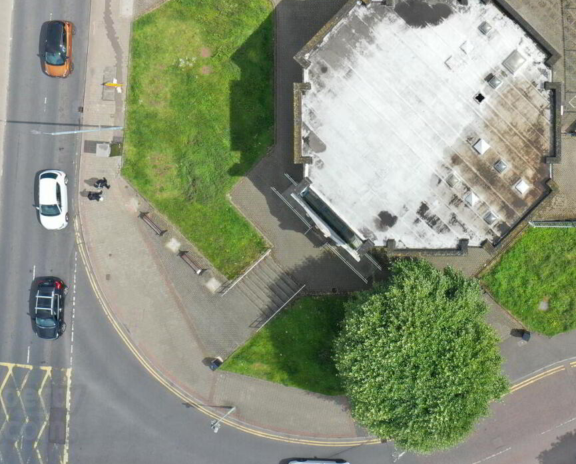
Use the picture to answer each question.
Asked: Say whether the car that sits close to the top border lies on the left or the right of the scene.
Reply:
left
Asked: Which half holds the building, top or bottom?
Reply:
top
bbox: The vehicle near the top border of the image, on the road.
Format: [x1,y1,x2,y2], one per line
[40,19,77,78]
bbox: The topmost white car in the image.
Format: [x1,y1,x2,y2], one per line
[36,170,72,230]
